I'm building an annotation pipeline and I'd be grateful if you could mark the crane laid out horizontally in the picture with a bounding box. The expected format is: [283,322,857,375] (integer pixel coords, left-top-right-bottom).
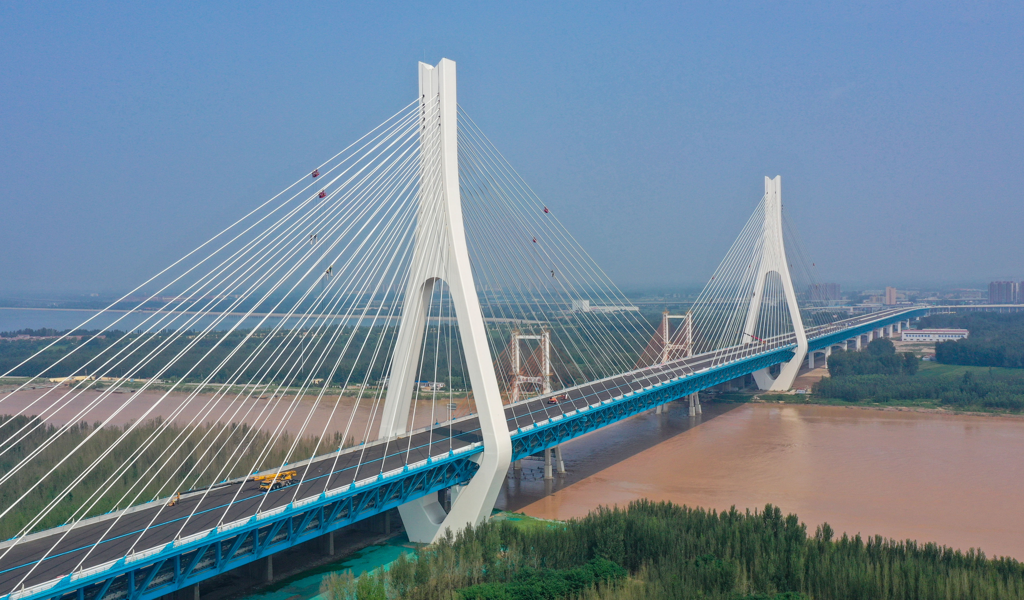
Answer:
[174,466,299,502]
